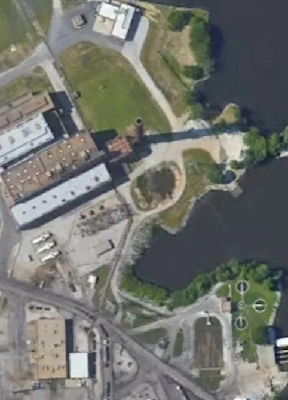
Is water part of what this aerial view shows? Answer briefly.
Yes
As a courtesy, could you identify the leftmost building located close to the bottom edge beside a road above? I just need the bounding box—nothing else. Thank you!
[30,318,67,381]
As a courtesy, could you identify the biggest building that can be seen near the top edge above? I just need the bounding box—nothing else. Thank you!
[93,2,134,41]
